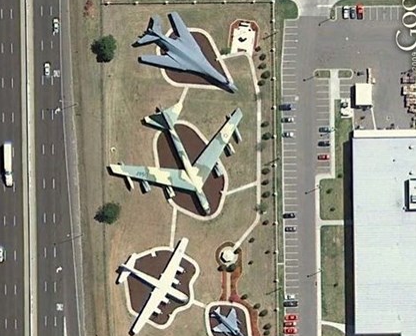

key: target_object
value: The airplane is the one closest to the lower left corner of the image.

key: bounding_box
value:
[120,235,190,334]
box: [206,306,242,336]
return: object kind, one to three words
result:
airplane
